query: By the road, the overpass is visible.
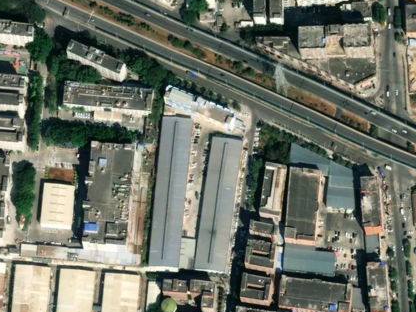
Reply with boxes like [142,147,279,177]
[98,0,416,146]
